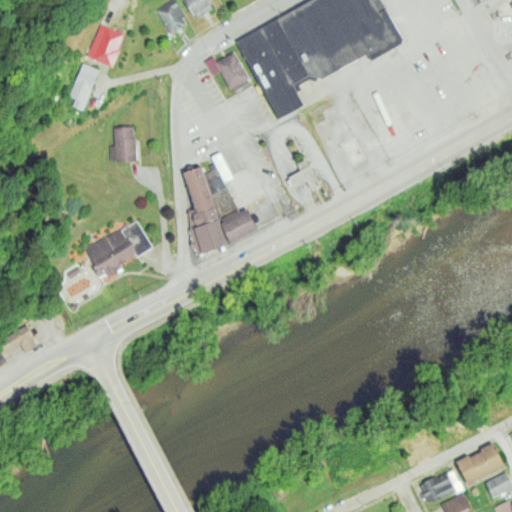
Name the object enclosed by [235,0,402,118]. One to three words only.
warehouse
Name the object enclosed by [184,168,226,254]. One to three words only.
building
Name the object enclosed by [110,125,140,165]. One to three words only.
house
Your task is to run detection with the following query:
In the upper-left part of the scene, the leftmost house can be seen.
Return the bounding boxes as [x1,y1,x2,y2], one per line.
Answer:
[72,63,98,112]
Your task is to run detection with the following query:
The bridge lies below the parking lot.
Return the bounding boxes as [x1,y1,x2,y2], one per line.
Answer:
[96,352,194,512]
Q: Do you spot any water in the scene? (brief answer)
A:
Yes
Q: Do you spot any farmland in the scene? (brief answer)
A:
No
